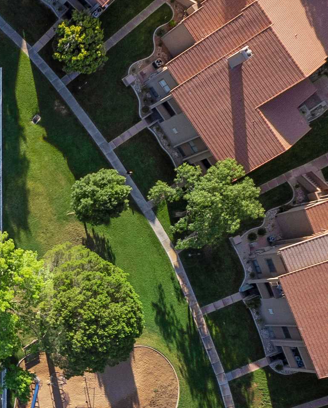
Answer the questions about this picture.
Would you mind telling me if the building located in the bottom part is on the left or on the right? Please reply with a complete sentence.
You can find the building located in the bottom part on the right side of the picture.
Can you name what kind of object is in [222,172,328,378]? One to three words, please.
building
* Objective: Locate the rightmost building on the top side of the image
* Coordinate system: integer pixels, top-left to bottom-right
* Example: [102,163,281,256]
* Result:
[126,0,328,198]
